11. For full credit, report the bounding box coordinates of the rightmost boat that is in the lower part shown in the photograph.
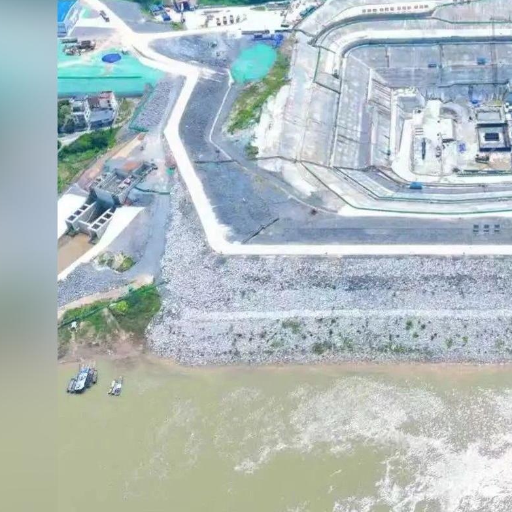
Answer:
[108,377,124,394]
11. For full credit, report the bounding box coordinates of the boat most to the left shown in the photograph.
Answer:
[69,365,99,393]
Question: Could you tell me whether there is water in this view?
Yes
